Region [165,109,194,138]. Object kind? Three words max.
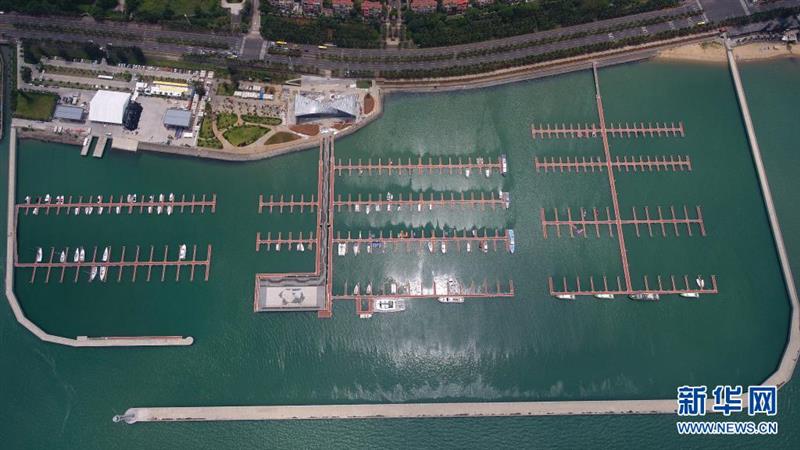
shed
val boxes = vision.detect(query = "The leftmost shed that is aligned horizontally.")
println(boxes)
[54,105,86,120]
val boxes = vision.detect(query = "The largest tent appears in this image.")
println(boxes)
[88,90,132,123]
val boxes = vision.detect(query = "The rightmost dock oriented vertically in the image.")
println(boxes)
[593,60,634,291]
